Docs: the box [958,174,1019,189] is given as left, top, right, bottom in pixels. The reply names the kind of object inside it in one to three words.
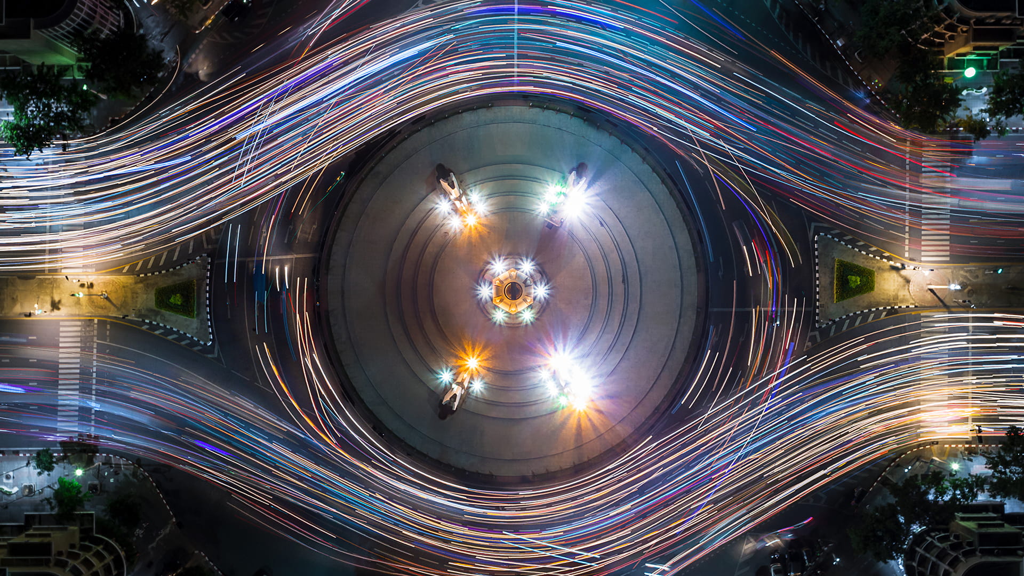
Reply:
vehicle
